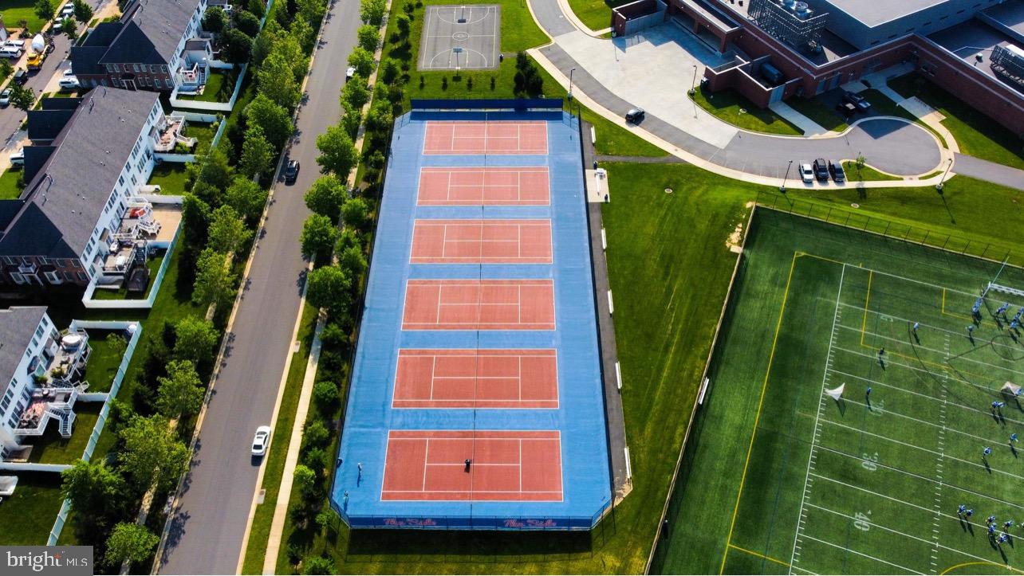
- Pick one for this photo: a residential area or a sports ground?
sports ground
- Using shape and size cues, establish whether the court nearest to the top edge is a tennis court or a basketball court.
basketball court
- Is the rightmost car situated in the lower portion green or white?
white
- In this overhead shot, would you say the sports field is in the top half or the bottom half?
bottom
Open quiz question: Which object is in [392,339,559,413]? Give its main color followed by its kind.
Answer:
red tennis court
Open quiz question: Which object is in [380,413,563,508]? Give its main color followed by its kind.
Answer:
red tennis court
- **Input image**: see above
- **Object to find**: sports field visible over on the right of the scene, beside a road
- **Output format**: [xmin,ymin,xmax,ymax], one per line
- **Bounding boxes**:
[647,207,1024,576]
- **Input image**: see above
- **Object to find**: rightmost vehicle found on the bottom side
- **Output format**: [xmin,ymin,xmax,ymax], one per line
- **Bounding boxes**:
[247,427,268,459]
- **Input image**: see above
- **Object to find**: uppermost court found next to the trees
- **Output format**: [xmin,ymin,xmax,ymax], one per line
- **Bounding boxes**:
[417,4,502,71]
